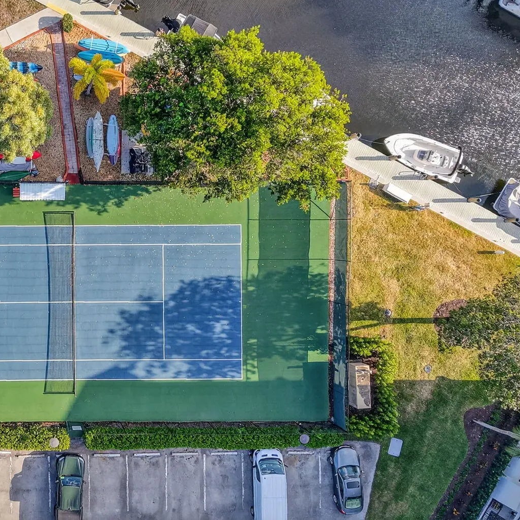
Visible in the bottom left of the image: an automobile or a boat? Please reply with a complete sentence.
There is an automobile in the bottom left of the image.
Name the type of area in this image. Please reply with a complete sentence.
The picture captures a sports ground.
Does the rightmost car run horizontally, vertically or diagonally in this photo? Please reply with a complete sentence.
The rightmost car is oriented vertically.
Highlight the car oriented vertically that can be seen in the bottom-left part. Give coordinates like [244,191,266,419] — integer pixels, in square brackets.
[54,454,87,520]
